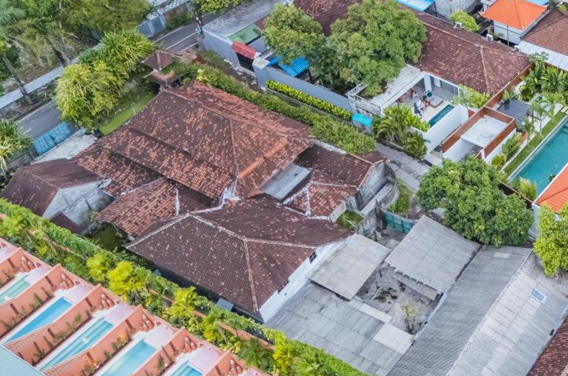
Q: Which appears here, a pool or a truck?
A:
pool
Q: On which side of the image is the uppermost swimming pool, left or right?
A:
right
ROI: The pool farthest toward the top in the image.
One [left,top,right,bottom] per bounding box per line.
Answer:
[428,105,453,128]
